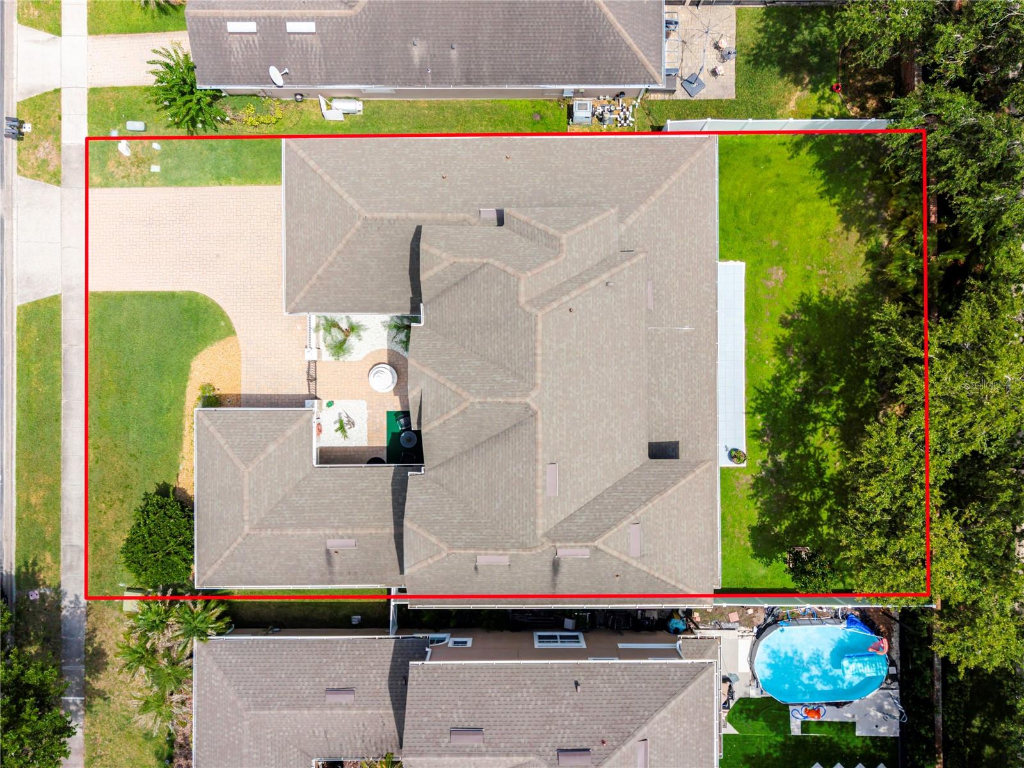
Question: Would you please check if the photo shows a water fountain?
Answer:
Yes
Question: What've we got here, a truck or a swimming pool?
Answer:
swimming pool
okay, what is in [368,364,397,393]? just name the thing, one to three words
fountain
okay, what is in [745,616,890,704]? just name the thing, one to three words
swimming pool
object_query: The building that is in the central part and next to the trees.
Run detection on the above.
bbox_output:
[192,132,725,609]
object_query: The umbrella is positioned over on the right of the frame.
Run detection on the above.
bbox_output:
[677,6,734,97]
